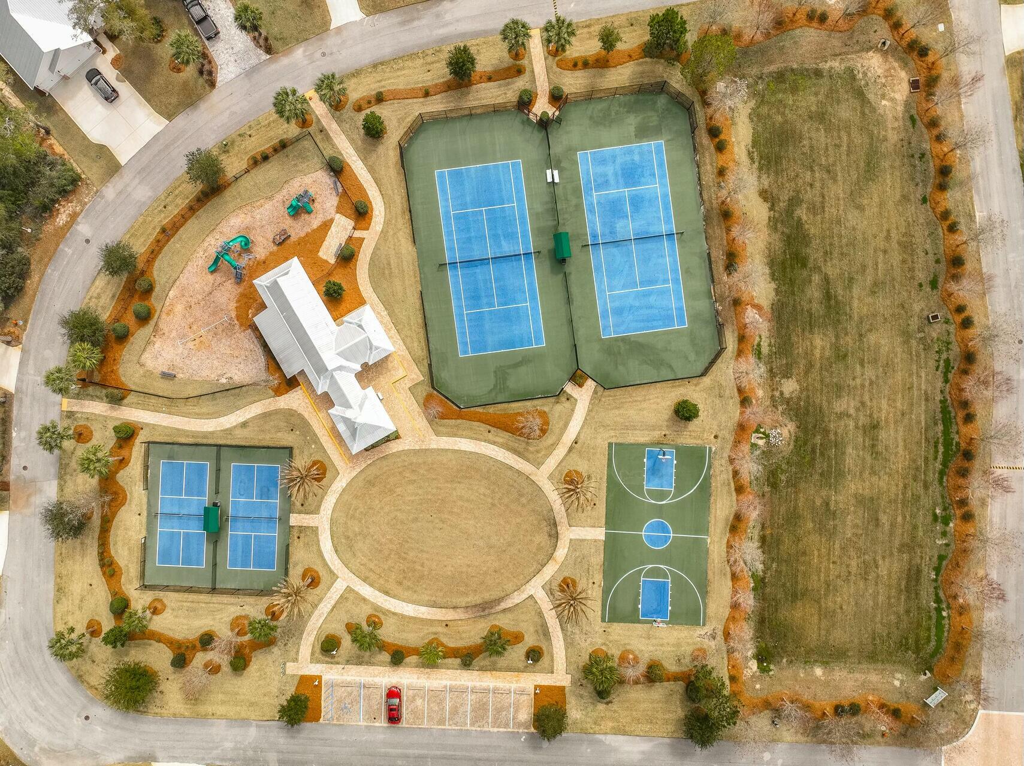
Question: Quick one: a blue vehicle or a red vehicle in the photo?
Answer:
red vehicle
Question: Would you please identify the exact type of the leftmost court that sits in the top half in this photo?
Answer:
tennis court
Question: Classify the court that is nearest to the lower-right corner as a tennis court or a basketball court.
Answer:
basketball court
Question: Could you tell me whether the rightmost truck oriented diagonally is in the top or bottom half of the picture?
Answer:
top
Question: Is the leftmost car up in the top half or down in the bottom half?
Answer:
top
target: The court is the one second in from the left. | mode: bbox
[215,447,291,591]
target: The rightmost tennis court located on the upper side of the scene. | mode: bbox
[545,91,719,388]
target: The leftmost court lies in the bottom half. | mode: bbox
[144,445,219,588]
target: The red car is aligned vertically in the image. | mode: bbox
[385,686,402,725]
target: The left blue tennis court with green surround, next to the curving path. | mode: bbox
[404,110,578,408]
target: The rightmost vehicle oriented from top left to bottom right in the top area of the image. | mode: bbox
[180,0,219,42]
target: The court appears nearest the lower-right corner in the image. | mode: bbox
[602,443,711,626]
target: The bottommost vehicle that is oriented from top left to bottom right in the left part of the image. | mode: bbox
[85,65,119,105]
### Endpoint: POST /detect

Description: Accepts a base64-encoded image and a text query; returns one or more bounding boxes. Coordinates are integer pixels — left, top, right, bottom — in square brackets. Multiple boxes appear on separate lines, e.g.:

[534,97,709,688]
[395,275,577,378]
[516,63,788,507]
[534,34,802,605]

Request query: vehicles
[85,65,119,105]
[180,0,219,42]
[385,686,402,725]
